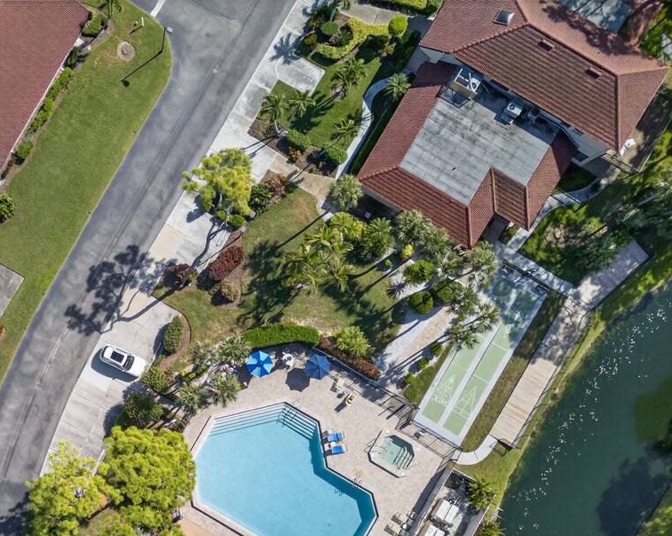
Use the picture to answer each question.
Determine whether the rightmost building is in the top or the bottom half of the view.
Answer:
top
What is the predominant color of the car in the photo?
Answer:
white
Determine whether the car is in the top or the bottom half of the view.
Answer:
bottom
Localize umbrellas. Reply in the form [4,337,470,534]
[247,351,272,377]
[303,353,330,379]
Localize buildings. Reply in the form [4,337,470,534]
[0,0,91,172]
[359,0,670,246]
